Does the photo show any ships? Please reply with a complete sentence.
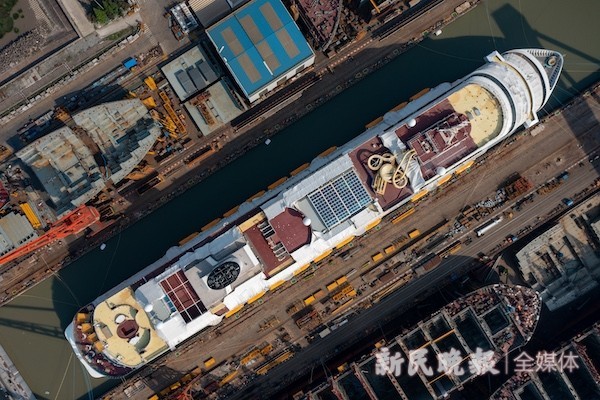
Yes, the picture does show a ship.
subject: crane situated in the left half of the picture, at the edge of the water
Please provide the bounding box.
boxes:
[0,199,117,264]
